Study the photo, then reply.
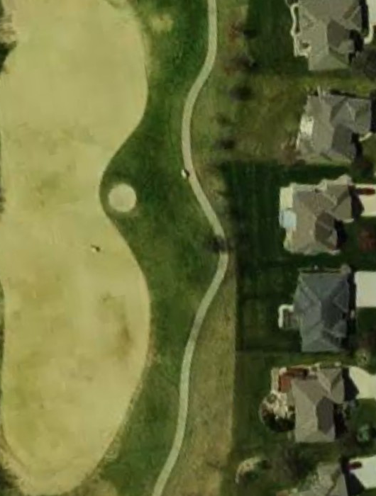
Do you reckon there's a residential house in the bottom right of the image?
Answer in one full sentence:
Yes, you'll find a residential house in the bottom right of the image.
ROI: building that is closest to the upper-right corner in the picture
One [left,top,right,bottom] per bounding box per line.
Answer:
[296,0,362,71]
